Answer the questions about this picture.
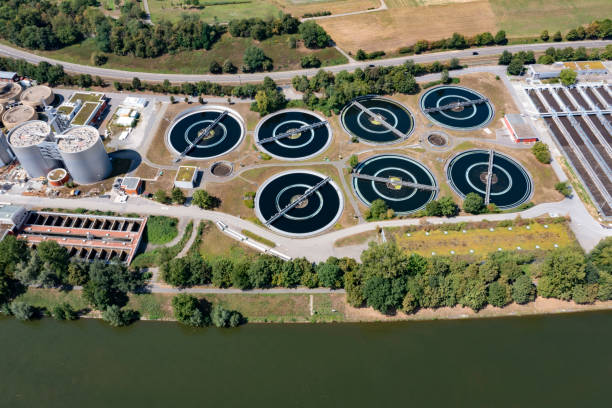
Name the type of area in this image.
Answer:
industrial area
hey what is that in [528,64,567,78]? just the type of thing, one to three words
building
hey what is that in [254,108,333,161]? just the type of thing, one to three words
storage tank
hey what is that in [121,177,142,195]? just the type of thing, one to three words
building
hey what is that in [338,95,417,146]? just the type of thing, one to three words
storage tank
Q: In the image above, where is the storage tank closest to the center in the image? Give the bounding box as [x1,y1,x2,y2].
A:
[255,170,344,236]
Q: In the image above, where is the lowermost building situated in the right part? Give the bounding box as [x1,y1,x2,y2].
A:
[504,113,536,143]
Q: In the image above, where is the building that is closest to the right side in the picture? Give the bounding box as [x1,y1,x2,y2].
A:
[564,62,606,76]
